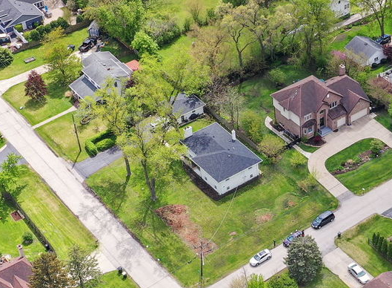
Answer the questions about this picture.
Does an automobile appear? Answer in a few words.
Yes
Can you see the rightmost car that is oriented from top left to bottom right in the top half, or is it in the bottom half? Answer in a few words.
bottom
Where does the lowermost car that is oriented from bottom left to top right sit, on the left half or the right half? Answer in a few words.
right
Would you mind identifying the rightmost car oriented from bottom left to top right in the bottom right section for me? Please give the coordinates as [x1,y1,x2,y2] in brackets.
[309,208,337,230]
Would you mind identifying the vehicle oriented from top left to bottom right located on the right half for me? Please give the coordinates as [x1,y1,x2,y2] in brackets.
[346,262,372,284]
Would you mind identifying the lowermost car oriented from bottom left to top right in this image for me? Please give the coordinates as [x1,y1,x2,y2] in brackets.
[248,246,275,268]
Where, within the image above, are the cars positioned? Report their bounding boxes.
[281,228,307,249]
[248,246,275,268]
[309,208,337,230]
[346,262,372,284]
[373,33,392,46]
